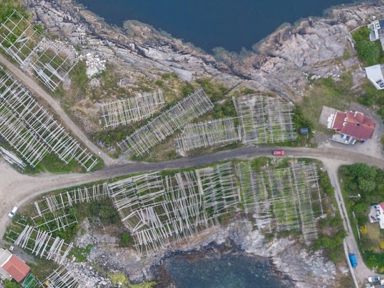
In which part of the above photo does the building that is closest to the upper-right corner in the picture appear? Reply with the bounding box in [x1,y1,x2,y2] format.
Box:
[363,17,384,55]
